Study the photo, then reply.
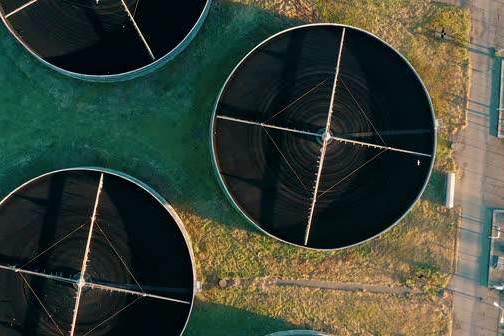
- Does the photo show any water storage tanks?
Yes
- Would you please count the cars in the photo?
none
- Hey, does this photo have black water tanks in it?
Yes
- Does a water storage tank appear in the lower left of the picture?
Yes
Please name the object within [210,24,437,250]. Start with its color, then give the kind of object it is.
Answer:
black water tank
